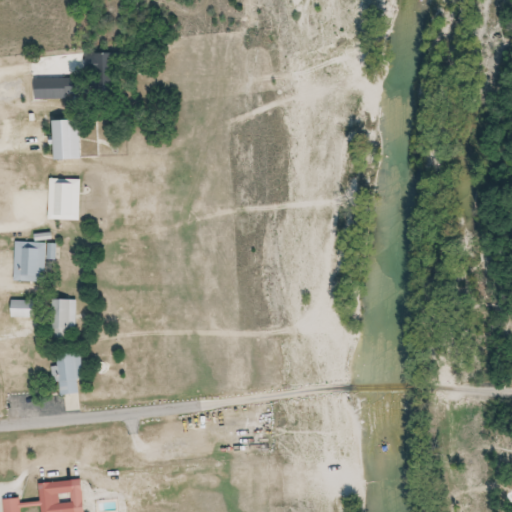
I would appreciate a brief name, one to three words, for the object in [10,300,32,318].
shed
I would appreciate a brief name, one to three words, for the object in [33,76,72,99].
building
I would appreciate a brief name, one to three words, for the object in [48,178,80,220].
barn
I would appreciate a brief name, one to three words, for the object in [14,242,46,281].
house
